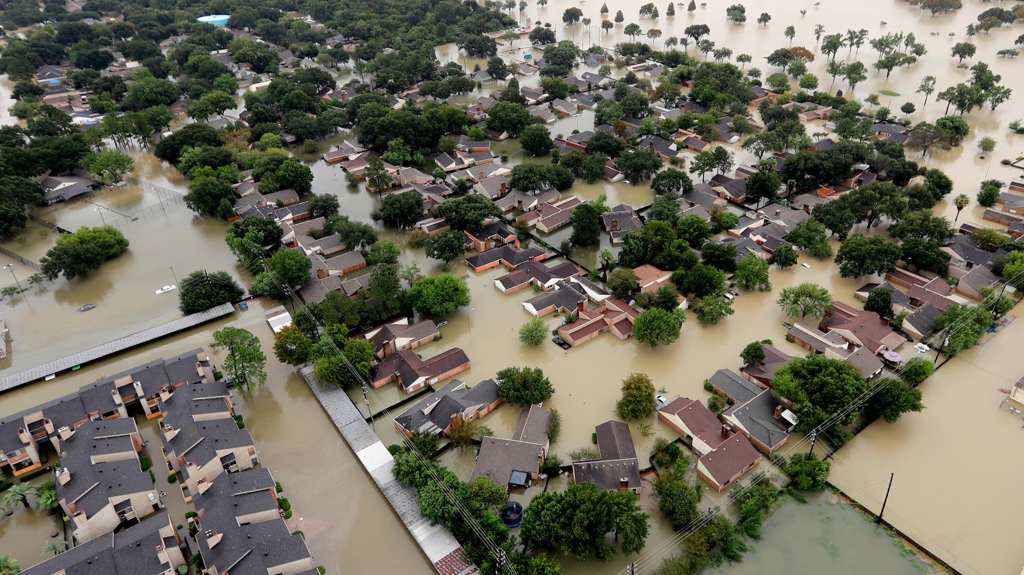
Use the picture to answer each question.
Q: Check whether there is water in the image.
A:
Yes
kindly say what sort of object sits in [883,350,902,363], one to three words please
umbrella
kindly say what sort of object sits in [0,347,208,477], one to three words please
building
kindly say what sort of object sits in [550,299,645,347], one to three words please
house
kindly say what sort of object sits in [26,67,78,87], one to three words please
house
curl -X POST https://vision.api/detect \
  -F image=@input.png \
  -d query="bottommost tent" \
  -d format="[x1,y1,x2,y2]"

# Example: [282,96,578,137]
[505,469,535,499]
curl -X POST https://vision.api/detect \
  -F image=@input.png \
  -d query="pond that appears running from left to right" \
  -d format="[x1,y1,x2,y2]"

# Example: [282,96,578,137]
[670,486,941,575]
